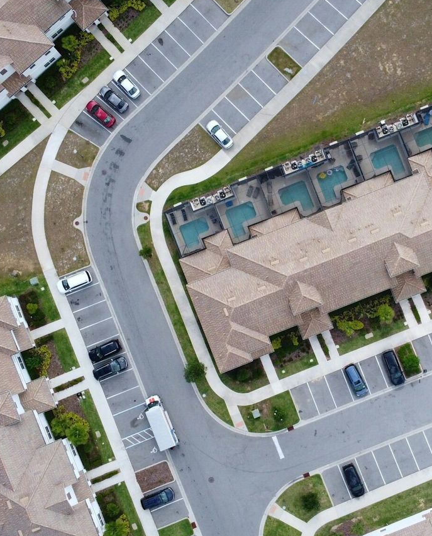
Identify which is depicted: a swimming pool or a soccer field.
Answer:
swimming pool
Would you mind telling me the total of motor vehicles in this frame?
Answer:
12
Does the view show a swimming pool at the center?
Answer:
Yes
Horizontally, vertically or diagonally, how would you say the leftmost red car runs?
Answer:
diagonally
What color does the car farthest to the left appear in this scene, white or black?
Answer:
white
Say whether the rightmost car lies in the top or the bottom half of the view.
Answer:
bottom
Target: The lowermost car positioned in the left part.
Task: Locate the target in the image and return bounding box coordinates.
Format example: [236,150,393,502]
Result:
[139,486,176,510]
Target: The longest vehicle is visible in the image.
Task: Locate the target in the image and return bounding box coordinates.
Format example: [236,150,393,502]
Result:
[148,393,181,452]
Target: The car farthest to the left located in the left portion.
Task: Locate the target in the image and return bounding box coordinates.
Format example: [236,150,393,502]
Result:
[57,270,93,294]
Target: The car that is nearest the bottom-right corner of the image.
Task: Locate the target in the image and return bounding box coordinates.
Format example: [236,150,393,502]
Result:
[342,463,365,498]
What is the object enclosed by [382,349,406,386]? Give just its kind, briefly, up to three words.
car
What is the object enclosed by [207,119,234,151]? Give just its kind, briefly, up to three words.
car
